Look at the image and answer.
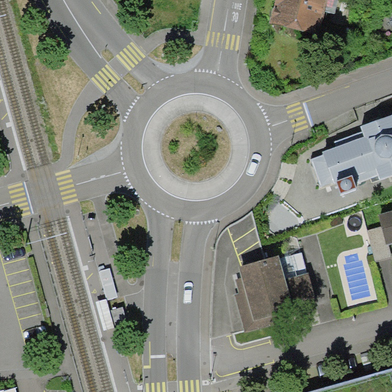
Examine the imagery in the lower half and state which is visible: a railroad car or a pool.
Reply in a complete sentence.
It is a pool that can be seen in the lower half.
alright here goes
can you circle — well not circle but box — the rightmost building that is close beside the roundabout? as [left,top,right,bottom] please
[311,116,392,197]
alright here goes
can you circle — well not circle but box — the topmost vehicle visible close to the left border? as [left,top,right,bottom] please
[4,248,26,260]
